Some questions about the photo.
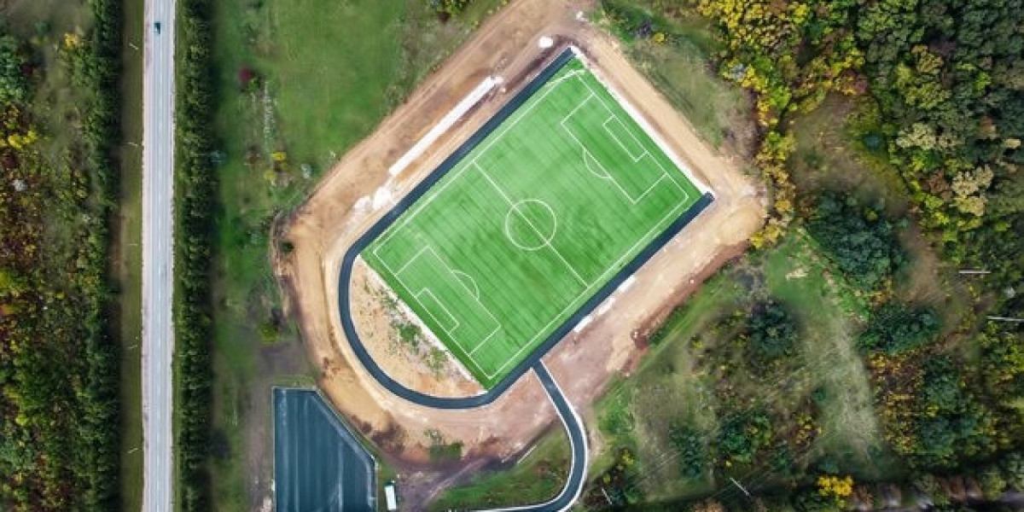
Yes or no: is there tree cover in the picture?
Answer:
Yes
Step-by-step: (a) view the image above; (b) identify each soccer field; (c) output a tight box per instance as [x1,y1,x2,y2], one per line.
[362,59,700,390]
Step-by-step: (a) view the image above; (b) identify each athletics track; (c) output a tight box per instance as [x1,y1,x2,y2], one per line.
[338,50,714,409]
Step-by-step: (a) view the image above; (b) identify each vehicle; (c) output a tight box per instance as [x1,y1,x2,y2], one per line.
[153,21,159,33]
[383,480,395,509]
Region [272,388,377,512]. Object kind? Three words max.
sports court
